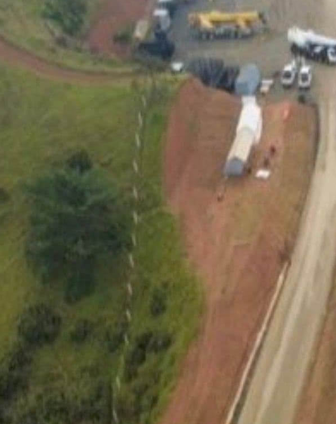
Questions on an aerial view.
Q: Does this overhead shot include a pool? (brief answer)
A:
No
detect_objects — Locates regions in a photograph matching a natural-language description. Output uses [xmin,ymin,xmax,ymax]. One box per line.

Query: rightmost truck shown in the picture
[294,66,315,88]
